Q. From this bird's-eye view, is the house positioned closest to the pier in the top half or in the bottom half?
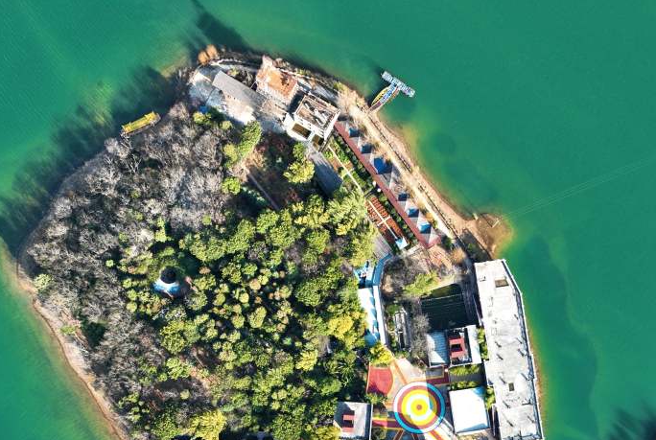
top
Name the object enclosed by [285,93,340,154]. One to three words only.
house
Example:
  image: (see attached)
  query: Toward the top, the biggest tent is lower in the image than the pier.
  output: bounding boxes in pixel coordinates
[374,160,399,186]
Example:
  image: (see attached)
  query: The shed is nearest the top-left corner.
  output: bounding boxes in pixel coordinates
[213,71,267,112]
